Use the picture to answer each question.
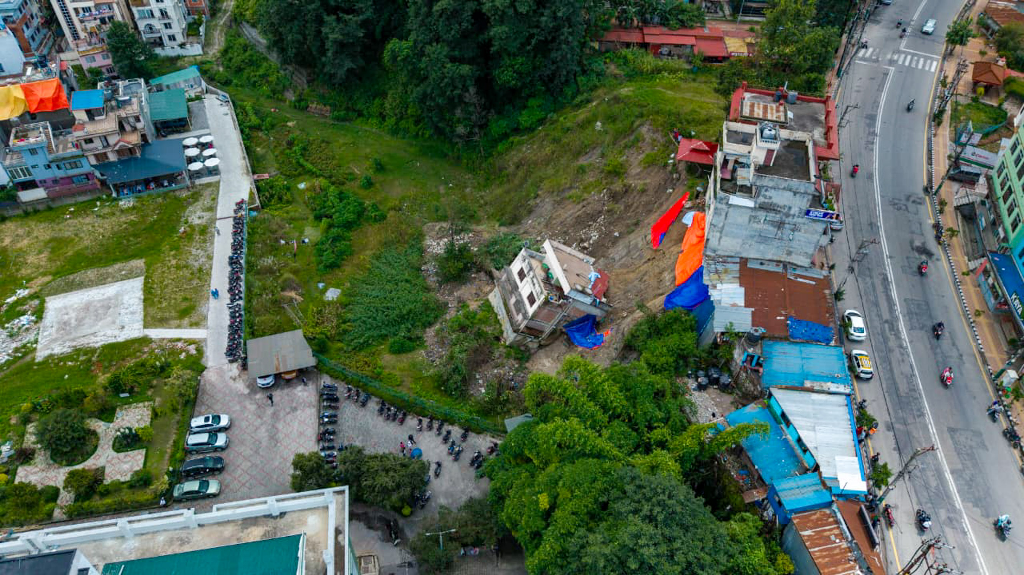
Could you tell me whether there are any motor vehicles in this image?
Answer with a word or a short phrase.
Yes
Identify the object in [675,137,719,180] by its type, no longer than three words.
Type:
building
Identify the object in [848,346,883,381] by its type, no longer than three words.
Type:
car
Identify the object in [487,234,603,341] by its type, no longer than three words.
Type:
house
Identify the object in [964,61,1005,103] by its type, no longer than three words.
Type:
gazebo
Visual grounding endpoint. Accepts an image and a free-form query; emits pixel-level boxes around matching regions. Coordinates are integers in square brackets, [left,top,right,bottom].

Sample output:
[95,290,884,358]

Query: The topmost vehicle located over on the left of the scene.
[211,89,234,103]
